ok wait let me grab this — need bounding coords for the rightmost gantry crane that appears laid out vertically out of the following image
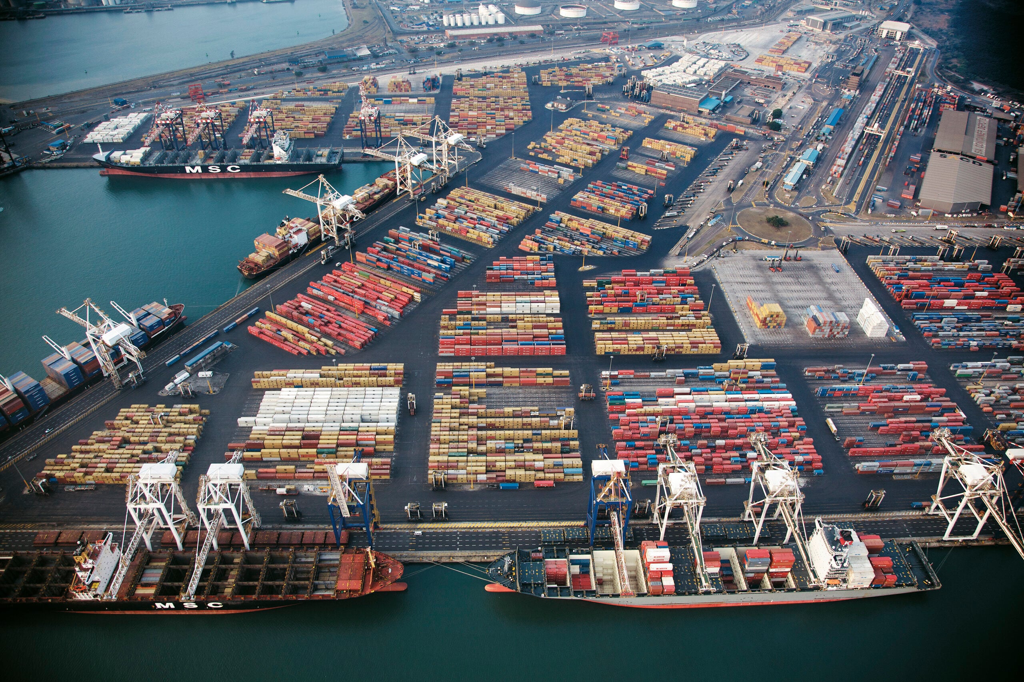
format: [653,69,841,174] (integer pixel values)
[987,433,1024,532]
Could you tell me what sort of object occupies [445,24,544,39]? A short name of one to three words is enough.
shed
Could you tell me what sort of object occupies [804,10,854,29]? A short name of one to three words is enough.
building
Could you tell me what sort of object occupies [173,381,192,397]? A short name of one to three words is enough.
work vehicle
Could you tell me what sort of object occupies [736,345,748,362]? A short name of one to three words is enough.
vehicle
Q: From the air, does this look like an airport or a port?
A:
port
